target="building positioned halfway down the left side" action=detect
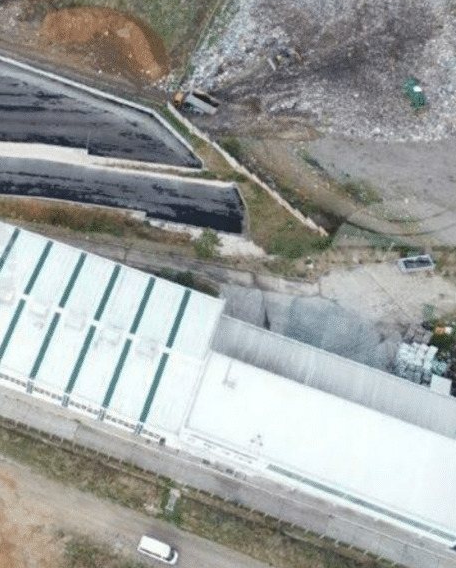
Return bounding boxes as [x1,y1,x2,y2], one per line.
[0,222,224,452]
